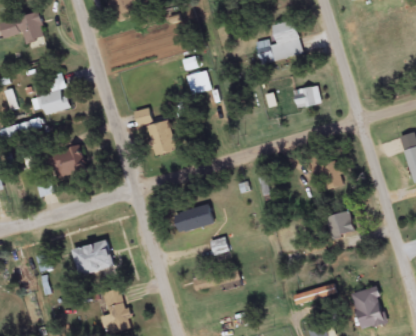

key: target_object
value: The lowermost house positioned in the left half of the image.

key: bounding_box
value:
[102,294,134,333]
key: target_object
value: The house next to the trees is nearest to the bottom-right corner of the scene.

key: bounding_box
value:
[352,286,388,328]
